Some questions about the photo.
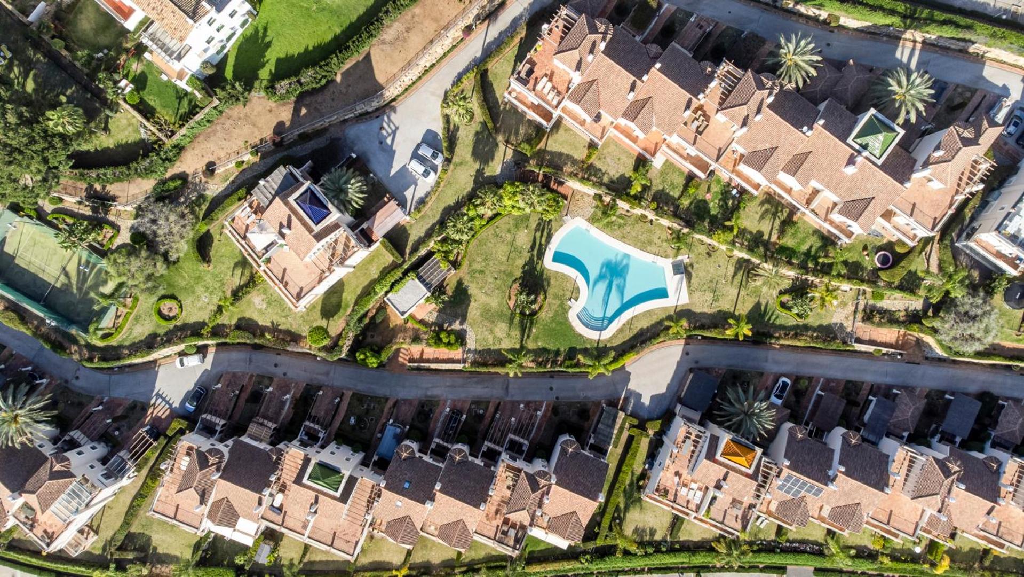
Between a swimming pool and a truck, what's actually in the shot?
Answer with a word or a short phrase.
swimming pool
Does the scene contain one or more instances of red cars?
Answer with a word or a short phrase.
No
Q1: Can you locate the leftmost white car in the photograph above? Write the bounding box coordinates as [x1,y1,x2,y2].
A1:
[175,353,206,370]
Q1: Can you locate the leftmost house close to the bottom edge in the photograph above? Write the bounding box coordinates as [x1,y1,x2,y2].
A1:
[0,426,166,559]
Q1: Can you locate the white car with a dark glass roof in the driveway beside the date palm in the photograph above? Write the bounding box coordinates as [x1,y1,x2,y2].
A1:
[768,375,790,407]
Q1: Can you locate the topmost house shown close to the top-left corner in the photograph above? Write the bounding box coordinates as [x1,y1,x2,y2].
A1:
[95,0,262,99]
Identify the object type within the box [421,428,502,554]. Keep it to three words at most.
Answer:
house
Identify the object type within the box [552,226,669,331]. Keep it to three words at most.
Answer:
swimming pool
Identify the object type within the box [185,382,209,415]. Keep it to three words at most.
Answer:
car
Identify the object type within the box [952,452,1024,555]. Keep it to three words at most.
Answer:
house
